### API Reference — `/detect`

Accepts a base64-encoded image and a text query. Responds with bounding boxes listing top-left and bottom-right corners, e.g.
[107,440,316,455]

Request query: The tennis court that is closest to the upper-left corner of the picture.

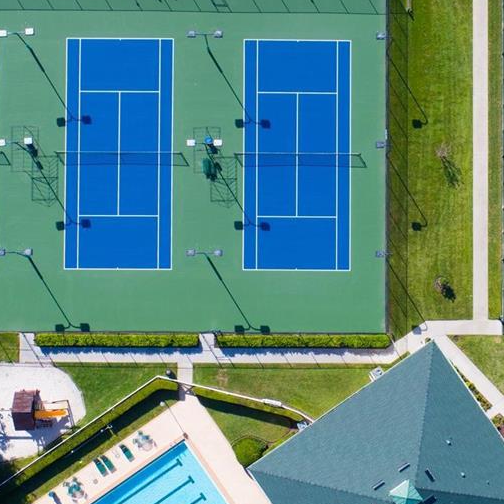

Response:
[64,37,174,270]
